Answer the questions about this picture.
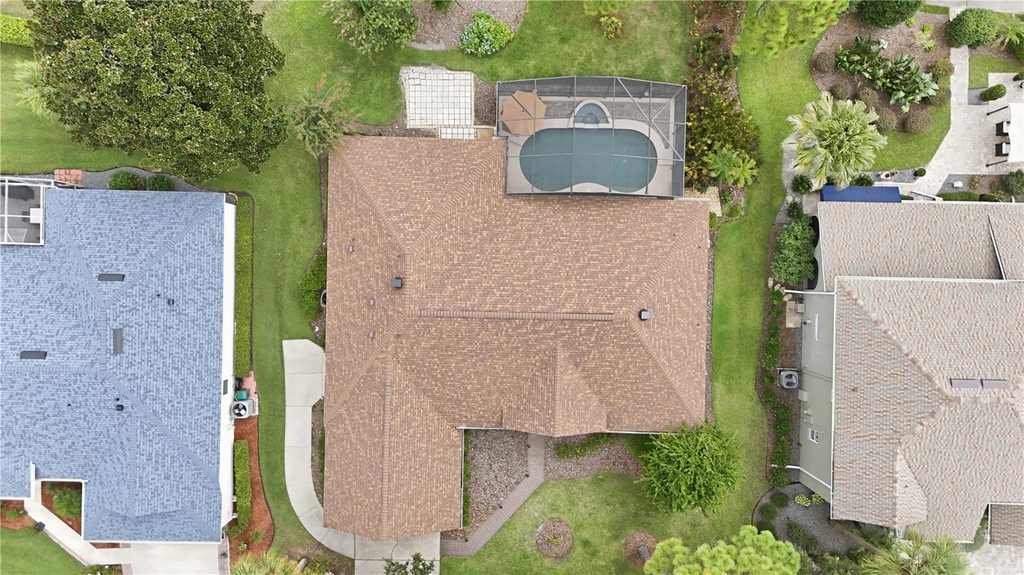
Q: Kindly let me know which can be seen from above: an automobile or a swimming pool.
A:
swimming pool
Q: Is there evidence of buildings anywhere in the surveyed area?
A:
Yes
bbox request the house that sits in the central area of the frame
[322,135,712,543]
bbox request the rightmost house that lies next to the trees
[772,201,1024,546]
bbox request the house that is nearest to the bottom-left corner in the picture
[0,186,238,545]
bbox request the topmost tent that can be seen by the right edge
[973,102,1024,169]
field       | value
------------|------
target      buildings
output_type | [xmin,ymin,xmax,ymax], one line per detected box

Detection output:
[772,201,1024,546]
[0,186,238,545]
[322,135,712,543]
